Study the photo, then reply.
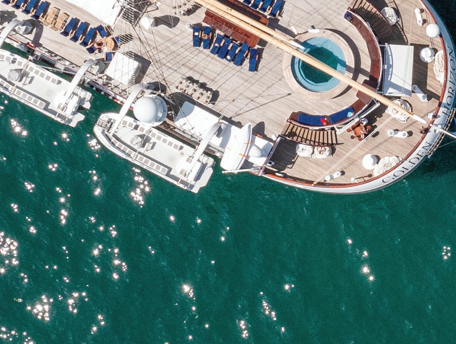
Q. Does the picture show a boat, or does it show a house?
boat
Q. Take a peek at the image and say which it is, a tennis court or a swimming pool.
swimming pool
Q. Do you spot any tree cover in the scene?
No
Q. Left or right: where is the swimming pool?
right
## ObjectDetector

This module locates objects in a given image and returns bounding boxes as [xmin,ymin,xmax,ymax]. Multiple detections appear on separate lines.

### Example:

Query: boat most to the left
[0,49,93,128]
